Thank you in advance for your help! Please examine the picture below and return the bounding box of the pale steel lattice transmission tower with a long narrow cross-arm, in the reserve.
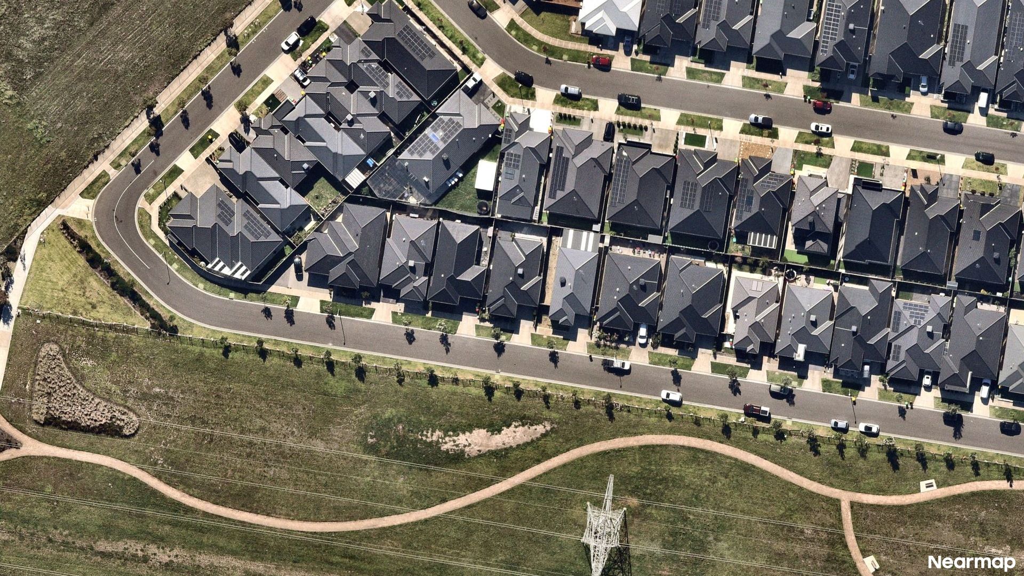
[580,475,627,576]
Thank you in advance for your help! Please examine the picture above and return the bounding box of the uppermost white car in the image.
[281,33,300,52]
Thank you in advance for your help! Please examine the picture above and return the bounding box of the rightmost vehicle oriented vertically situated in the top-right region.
[976,87,989,112]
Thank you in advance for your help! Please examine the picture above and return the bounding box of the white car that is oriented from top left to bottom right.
[292,66,311,87]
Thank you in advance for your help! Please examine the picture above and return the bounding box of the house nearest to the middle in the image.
[486,239,543,318]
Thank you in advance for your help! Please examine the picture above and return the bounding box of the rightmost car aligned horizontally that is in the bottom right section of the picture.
[998,422,1021,434]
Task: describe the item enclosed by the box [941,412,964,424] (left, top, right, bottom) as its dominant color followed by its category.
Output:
black vehicle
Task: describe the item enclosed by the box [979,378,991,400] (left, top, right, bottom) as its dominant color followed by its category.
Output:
white vehicle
